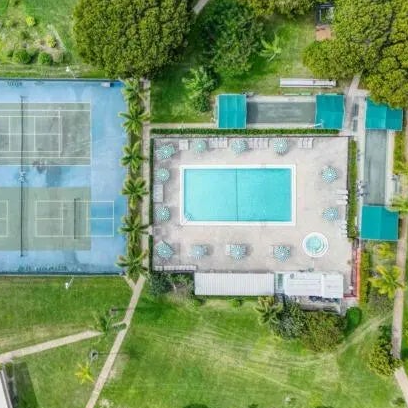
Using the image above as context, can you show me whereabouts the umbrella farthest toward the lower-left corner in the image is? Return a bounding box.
[156,243,171,258]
